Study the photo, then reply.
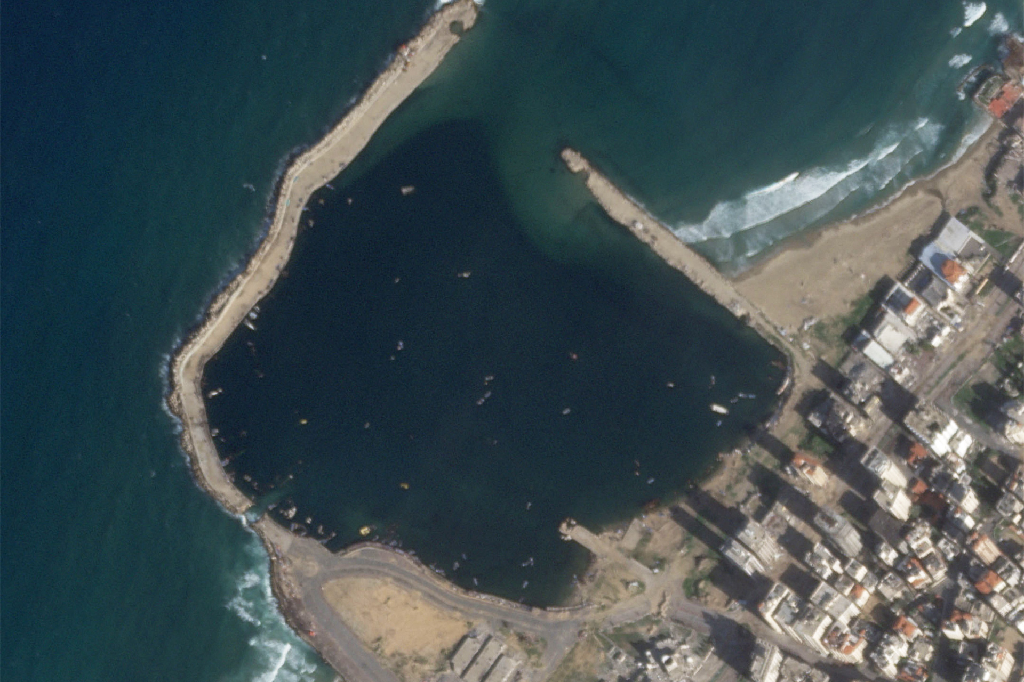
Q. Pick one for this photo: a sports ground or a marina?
marina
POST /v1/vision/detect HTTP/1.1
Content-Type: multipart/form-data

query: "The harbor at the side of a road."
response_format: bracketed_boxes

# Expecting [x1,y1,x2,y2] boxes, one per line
[201,44,794,608]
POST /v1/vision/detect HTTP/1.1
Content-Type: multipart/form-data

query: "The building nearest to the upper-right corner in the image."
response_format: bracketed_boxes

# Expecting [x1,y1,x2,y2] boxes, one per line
[989,82,1022,119]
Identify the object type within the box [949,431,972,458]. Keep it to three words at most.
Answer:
building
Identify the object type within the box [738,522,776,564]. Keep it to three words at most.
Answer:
building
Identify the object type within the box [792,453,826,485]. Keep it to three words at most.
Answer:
house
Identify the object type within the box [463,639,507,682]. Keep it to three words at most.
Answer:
shed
